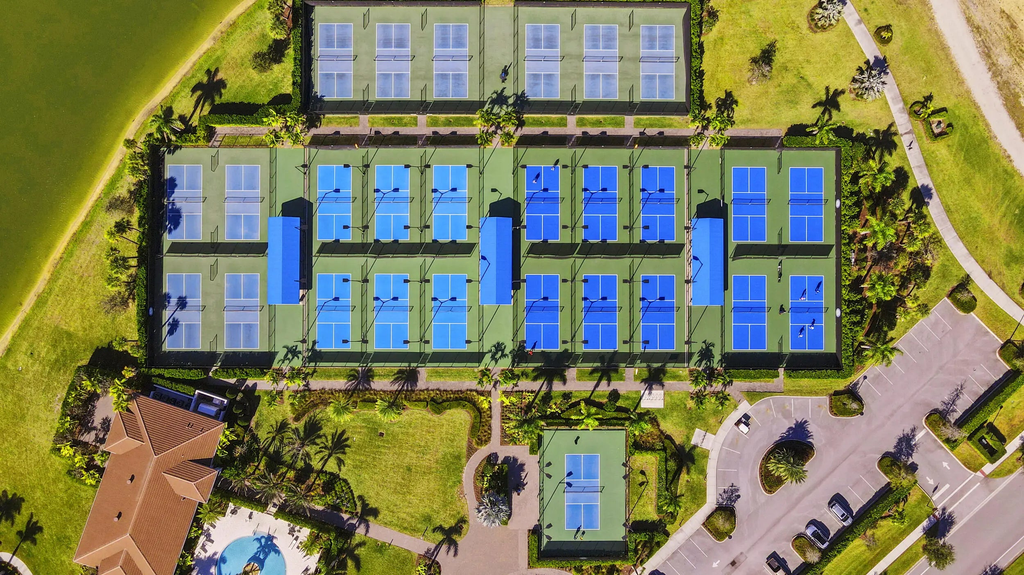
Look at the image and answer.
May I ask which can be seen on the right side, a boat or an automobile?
automobile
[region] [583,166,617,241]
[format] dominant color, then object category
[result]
blue sports court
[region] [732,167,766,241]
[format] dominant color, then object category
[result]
blue sports court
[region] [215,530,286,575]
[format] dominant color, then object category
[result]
blue swimming pool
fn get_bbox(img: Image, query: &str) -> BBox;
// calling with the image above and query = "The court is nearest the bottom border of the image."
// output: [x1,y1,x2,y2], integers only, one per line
[565,454,600,530]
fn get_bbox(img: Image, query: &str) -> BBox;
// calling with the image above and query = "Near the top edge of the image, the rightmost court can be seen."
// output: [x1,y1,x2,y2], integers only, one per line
[641,25,675,99]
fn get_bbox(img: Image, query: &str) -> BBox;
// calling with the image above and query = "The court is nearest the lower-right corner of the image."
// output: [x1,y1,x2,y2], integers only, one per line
[790,275,824,350]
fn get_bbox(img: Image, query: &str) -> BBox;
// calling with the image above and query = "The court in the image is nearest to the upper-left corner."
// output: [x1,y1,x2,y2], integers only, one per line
[167,165,203,239]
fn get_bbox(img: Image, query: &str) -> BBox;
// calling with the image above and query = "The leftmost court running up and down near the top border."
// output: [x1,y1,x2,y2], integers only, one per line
[318,23,353,98]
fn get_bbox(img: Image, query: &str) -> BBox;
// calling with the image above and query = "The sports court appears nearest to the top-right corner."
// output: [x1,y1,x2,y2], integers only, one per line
[790,167,823,242]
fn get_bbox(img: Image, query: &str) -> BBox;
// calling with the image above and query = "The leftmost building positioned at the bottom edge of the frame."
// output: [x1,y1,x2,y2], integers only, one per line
[73,392,227,575]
